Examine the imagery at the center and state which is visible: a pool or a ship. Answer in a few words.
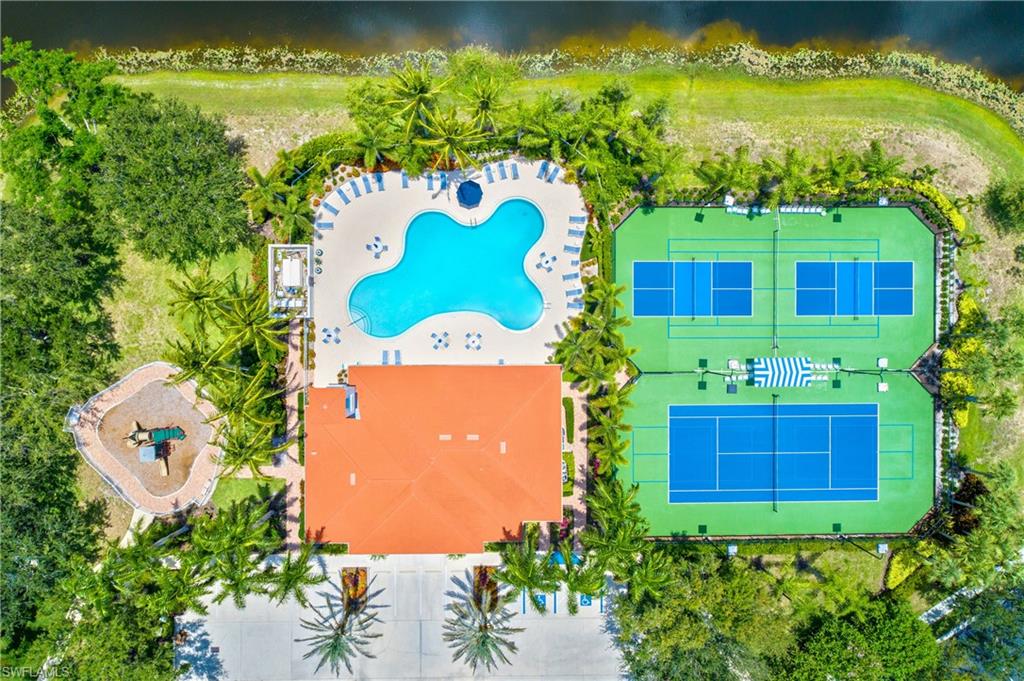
pool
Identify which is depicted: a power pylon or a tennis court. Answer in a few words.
tennis court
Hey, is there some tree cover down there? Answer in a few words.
Yes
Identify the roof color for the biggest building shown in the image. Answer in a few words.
orange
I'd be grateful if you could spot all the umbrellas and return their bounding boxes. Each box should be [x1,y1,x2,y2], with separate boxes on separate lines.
[457,181,483,208]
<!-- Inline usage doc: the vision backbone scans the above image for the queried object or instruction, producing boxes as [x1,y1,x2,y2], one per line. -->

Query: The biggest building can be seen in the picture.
[306,365,562,554]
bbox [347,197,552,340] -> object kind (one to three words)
swimming pool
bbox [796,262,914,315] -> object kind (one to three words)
sports court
